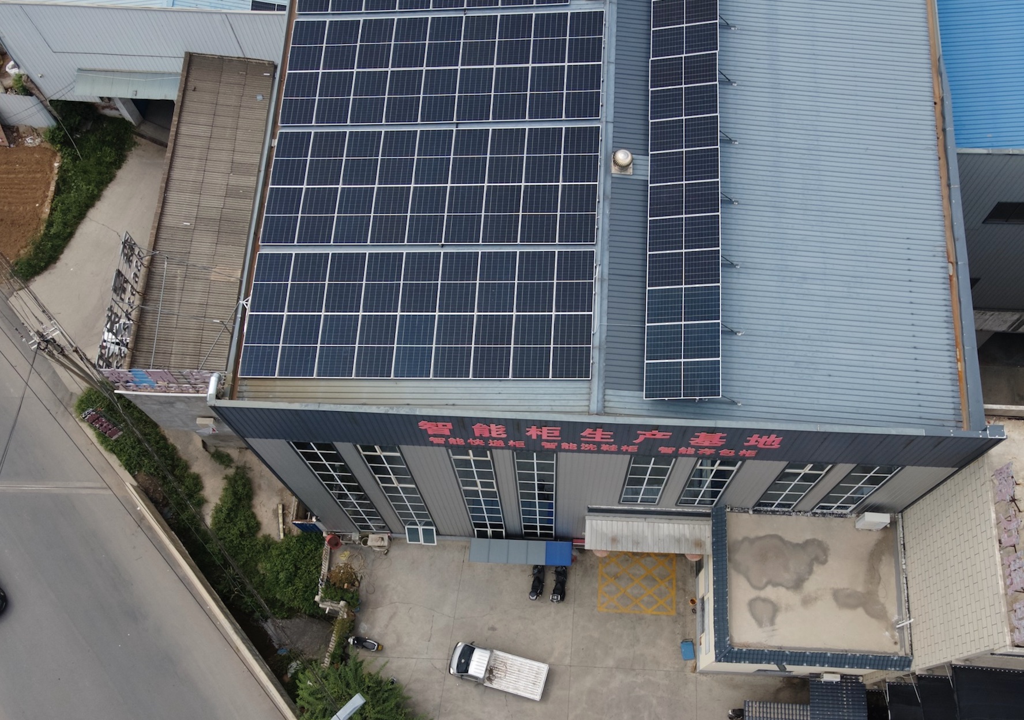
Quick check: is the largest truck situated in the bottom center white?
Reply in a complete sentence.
Yes, the largest truck situated in the bottom center is white.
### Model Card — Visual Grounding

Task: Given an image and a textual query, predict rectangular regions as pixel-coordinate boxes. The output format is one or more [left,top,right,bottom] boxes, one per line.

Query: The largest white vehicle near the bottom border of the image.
[447,637,550,703]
